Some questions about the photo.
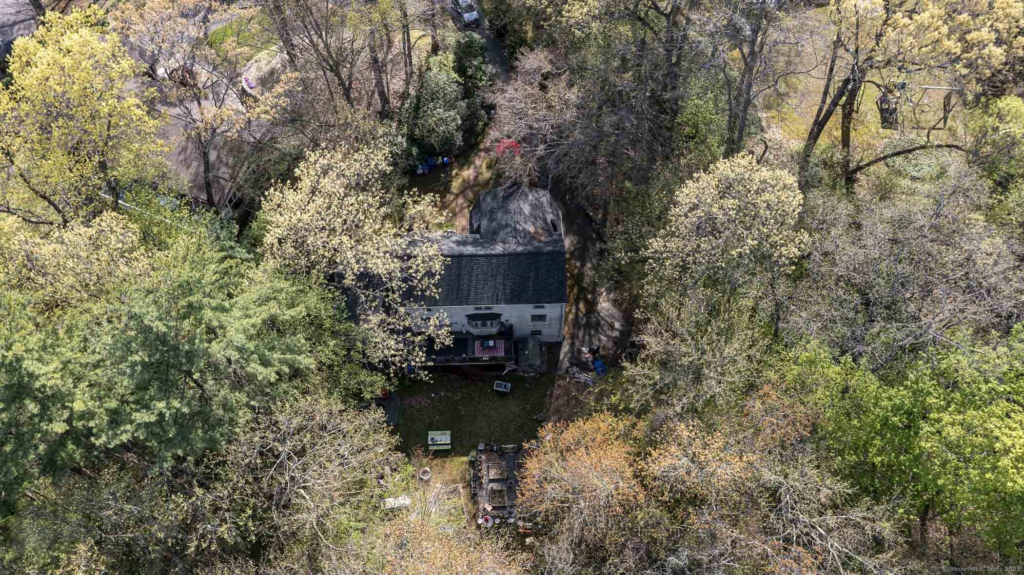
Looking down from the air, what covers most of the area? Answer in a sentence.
Most of the picture is covered by trees.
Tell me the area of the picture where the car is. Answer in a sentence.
You can find the car in the top area of the picture.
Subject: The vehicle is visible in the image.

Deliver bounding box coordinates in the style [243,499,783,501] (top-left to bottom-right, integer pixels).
[457,0,482,26]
